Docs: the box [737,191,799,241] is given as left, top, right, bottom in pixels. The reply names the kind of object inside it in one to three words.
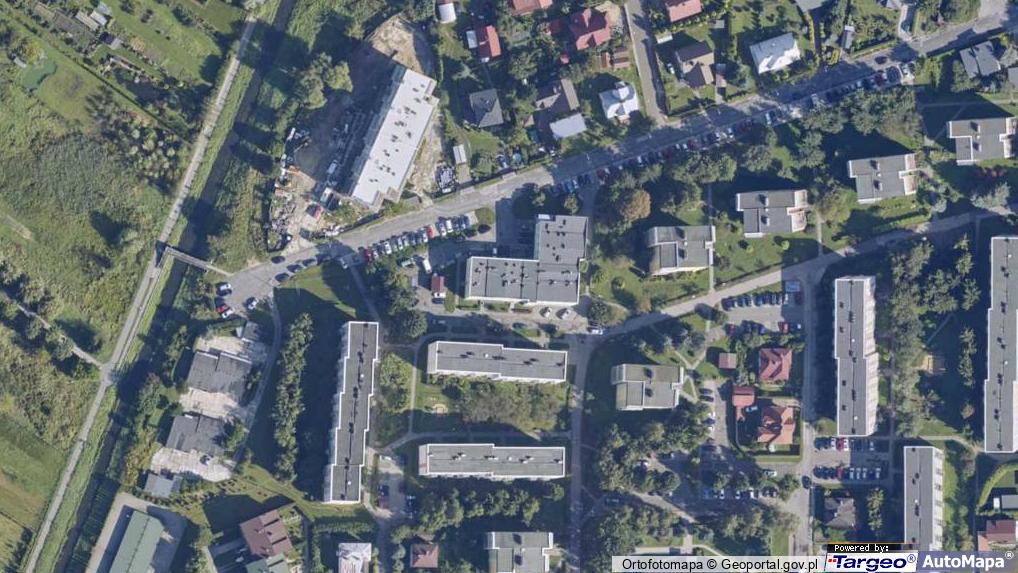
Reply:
building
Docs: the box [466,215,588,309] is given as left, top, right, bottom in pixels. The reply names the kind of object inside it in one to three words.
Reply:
building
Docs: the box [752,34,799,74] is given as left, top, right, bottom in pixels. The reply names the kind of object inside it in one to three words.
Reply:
house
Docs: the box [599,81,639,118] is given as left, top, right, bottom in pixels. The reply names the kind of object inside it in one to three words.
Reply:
house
